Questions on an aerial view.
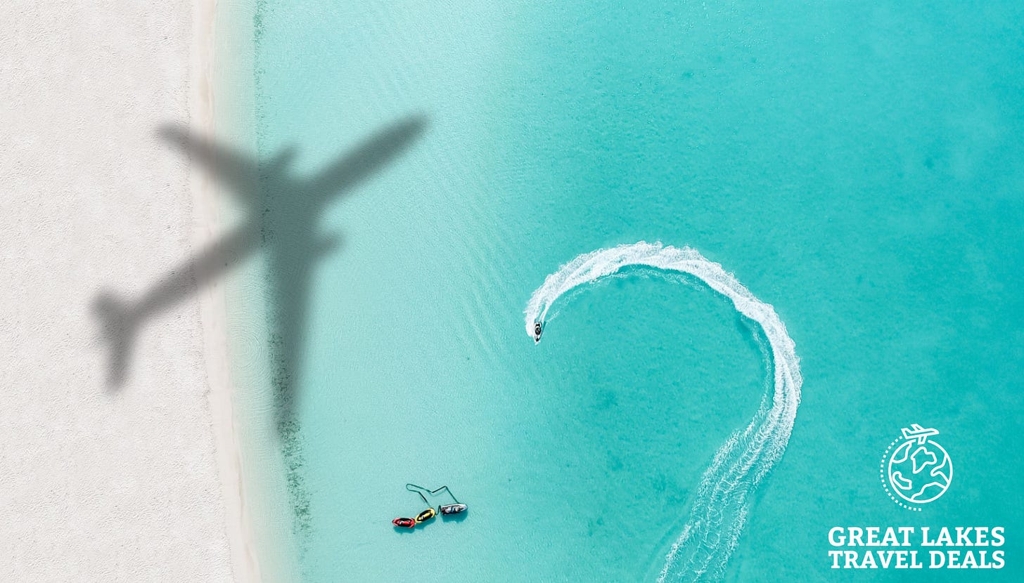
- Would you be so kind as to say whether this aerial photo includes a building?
No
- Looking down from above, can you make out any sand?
Yes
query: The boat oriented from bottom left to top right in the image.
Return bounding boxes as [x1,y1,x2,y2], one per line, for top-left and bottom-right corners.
[415,508,436,524]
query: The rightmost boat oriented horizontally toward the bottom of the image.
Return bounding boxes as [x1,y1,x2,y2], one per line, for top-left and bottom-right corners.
[440,504,467,516]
